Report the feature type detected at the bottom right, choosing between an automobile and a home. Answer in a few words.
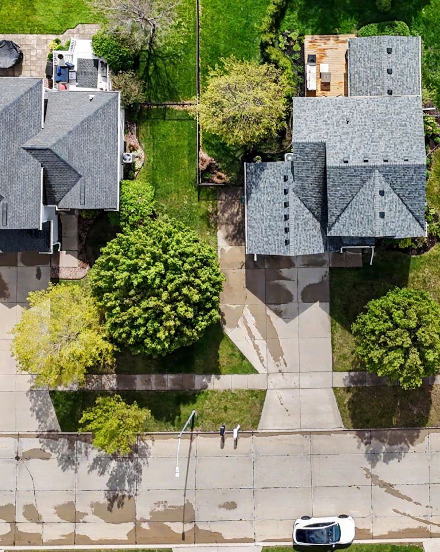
automobile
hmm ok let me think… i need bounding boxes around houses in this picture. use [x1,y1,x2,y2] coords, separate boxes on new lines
[244,34,427,261]
[0,77,126,257]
